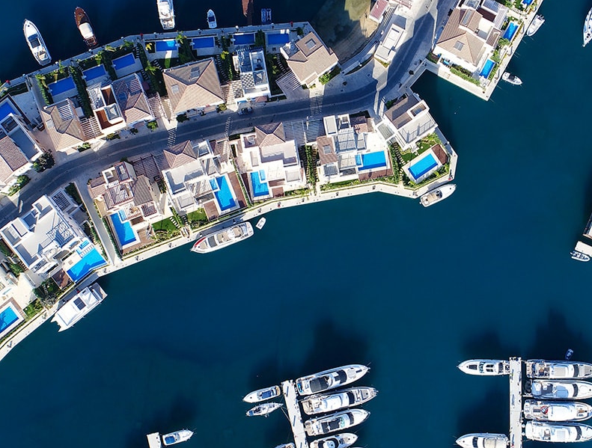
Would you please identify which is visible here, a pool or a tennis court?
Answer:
pool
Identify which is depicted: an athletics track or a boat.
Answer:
boat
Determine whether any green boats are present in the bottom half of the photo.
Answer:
No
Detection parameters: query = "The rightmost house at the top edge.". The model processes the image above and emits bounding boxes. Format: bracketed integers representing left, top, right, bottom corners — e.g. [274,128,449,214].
[436,0,509,71]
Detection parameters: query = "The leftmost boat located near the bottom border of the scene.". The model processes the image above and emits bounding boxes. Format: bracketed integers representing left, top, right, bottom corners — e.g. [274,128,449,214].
[162,429,193,446]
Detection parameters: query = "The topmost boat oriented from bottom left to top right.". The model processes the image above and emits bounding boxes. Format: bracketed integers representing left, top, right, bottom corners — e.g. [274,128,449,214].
[527,16,545,35]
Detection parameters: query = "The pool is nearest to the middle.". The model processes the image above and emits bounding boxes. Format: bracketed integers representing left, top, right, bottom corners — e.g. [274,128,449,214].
[241,169,285,199]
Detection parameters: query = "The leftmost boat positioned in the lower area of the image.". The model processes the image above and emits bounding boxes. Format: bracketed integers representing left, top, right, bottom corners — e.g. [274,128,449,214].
[50,281,110,333]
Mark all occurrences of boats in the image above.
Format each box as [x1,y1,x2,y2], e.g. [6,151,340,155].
[527,16,545,35]
[295,366,371,394]
[451,432,510,448]
[304,408,373,434]
[522,399,592,421]
[207,9,217,29]
[256,217,267,228]
[522,420,592,443]
[277,442,295,448]
[190,225,258,253]
[522,358,592,379]
[310,434,360,448]
[300,389,379,415]
[502,71,523,85]
[22,17,52,68]
[155,0,176,32]
[75,7,100,49]
[162,429,193,446]
[246,403,283,417]
[565,349,572,359]
[525,379,592,400]
[570,249,590,262]
[50,281,110,333]
[420,184,460,205]
[241,385,283,402]
[581,5,592,50]
[453,358,509,375]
